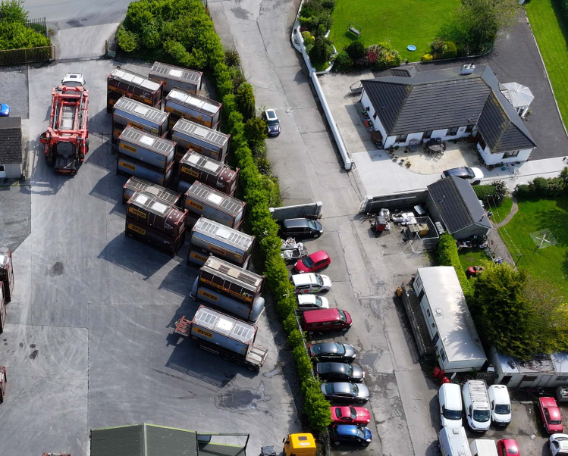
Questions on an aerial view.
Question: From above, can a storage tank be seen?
Yes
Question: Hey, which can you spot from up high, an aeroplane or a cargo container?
cargo container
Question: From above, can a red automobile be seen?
Yes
